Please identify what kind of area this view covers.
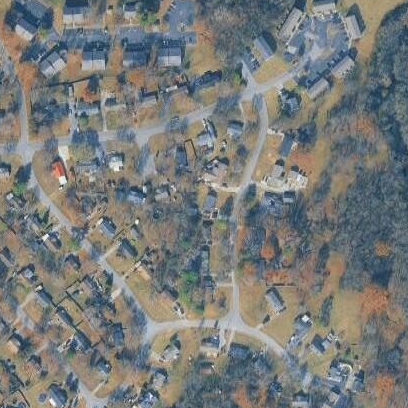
residential area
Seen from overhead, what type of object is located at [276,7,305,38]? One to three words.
building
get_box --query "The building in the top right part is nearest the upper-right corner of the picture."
[343,13,363,40]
